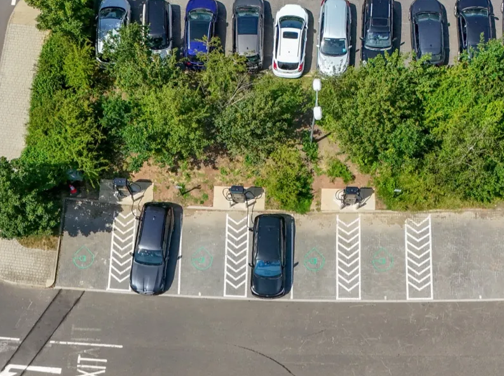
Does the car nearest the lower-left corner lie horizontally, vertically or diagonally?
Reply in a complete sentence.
Seen from above, the car nearest the lower-left corner lies vertically.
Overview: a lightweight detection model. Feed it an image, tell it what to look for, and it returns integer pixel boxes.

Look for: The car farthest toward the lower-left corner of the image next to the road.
[129,205,177,292]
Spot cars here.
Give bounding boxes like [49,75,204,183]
[129,205,177,292]
[180,0,220,73]
[228,0,268,74]
[315,0,356,76]
[247,215,291,297]
[455,0,497,61]
[135,0,175,65]
[358,0,400,60]
[272,3,312,80]
[409,0,450,67]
